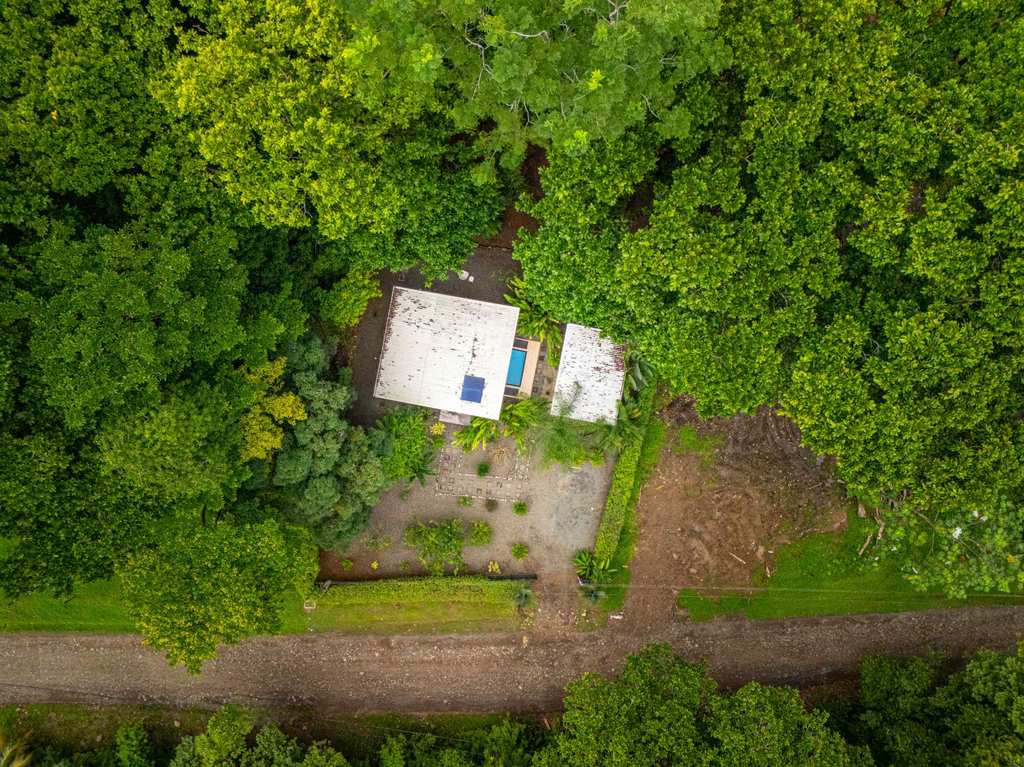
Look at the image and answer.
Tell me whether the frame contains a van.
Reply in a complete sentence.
No, the picture doesn't show any van.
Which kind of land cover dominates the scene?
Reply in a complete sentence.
The scene is dominated by trees.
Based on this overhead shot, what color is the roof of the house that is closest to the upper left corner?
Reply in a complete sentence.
The roof over the house that is closest to the upper left corner appears white.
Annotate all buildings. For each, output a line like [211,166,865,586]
[551,324,634,426]
[372,286,520,421]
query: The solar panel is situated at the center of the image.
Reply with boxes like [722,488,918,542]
[460,374,485,403]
